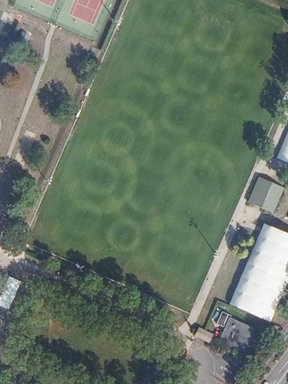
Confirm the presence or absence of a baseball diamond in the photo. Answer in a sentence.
No, the picture doesn't show any baseball diamond.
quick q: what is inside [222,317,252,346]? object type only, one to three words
building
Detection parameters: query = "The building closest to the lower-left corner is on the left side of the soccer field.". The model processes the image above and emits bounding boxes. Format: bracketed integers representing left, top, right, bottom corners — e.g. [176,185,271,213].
[0,276,22,310]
